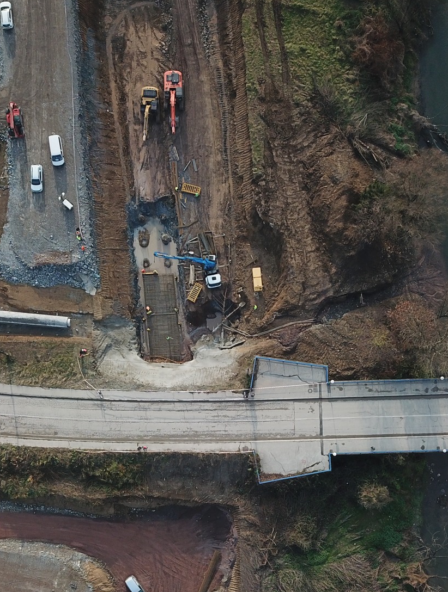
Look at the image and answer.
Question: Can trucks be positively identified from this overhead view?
Yes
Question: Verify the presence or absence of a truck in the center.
Yes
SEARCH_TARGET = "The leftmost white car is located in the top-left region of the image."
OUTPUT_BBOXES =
[0,2,15,32]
